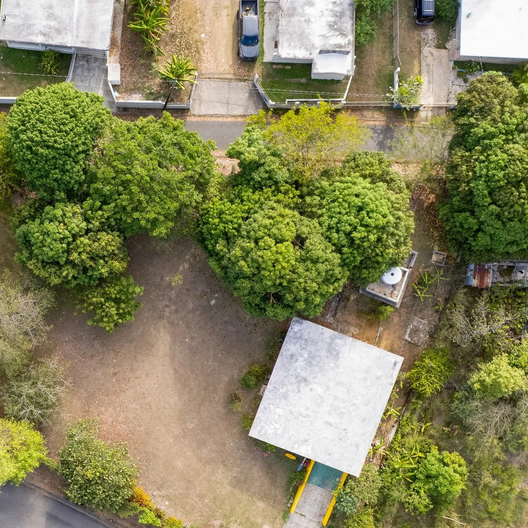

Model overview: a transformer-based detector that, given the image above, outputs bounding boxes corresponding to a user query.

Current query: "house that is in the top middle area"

[270,0,357,85]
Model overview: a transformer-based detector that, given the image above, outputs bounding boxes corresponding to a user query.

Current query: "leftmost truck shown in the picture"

[236,0,262,58]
